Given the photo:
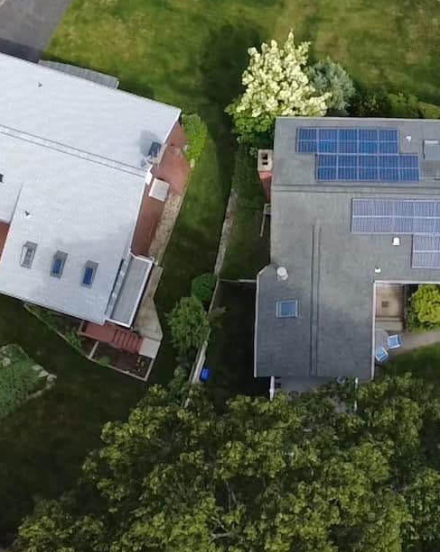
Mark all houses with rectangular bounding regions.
[253,117,440,415]
[0,51,190,362]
